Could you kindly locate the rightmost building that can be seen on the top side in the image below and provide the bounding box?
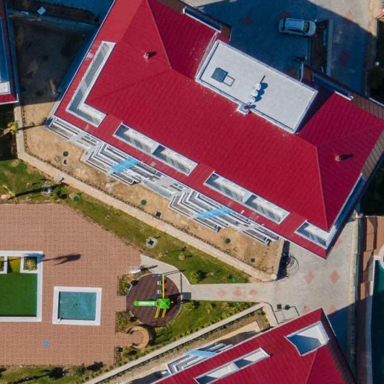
[42,0,384,261]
